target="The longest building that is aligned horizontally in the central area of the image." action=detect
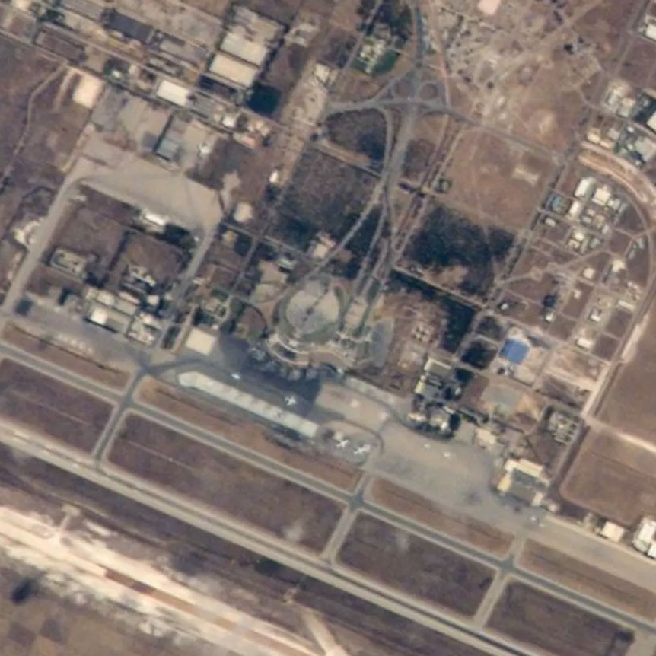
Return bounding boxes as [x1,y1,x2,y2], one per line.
[266,331,370,373]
